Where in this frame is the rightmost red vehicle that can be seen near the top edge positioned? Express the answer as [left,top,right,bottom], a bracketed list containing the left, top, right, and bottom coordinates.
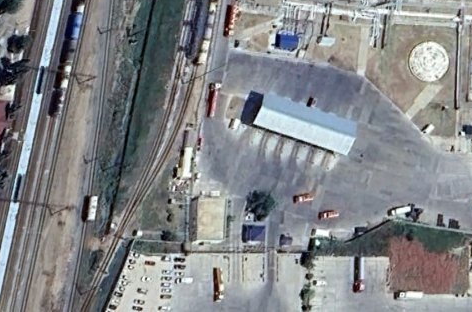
[223,6,236,37]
